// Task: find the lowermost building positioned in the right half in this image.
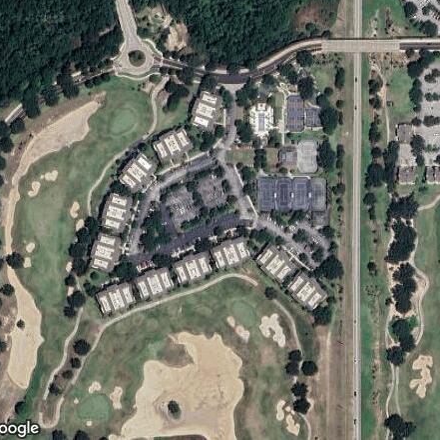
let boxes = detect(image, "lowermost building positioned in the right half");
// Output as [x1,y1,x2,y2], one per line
[288,273,326,308]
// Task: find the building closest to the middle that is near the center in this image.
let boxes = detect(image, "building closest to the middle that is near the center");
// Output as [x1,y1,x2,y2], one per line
[212,241,250,268]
